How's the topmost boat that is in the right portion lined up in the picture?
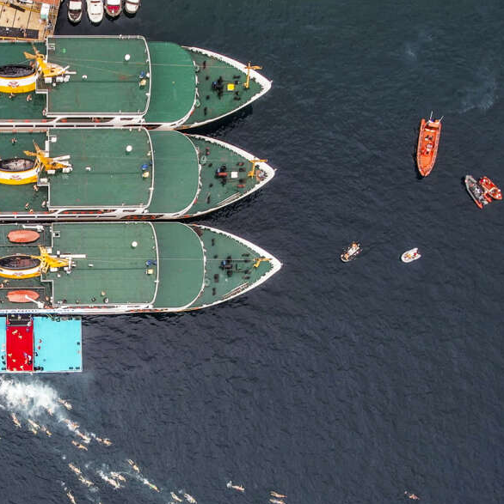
from top to bottom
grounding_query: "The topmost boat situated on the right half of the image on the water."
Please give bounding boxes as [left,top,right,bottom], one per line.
[416,114,438,175]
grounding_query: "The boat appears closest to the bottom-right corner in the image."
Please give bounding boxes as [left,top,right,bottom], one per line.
[402,247,421,261]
